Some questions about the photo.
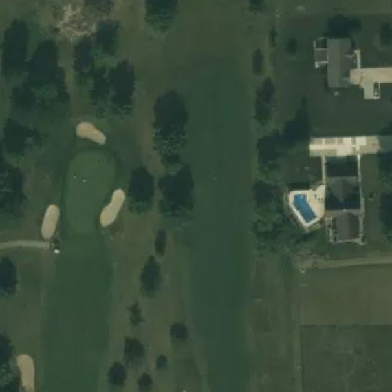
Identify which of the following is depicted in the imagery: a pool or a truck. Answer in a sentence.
The one in the frame is a pool.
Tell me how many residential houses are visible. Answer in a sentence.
Looking from above, you can make out 2 residential houses.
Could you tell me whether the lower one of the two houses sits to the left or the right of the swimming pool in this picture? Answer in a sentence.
To the right of the swimming pool is where the lower one of the two houses appears.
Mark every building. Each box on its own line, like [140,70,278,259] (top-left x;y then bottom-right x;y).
[314,36,354,88]
[325,175,360,241]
